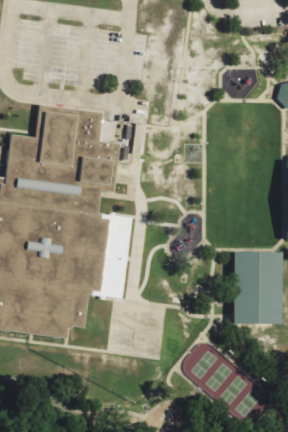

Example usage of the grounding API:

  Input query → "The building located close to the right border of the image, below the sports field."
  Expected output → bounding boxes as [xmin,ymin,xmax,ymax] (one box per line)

[234,252,284,323]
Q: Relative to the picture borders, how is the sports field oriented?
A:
from top to bottom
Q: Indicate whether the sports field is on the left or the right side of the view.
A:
right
